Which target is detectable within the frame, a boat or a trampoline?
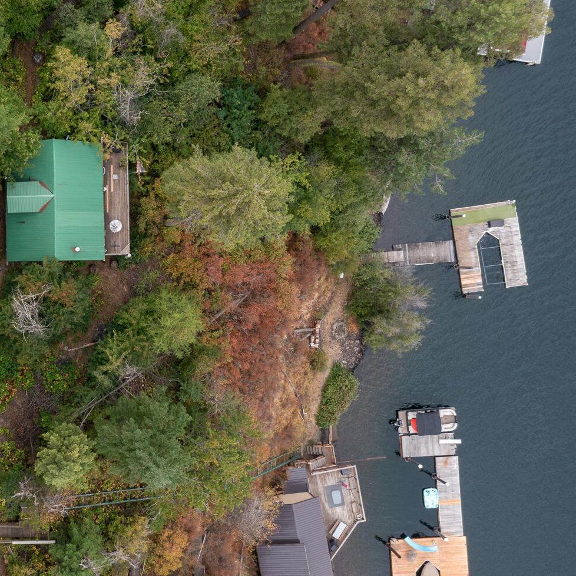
boat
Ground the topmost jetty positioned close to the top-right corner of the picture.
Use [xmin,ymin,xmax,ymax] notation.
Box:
[473,0,550,65]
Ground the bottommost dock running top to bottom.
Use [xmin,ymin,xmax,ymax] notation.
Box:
[433,455,464,535]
